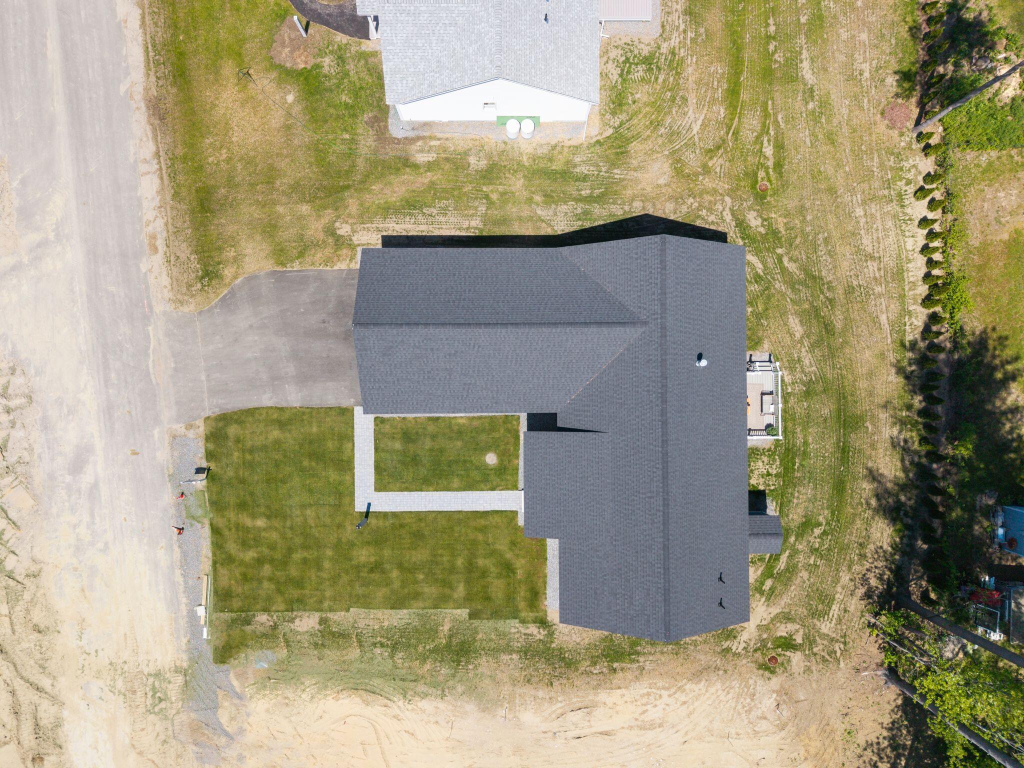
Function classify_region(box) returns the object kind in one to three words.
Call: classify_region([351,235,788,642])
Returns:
house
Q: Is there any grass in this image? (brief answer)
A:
Yes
